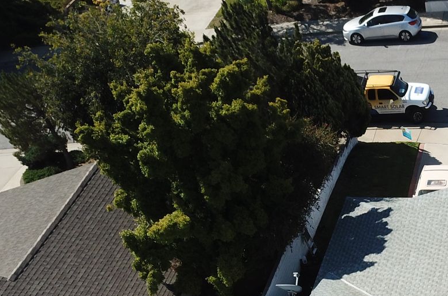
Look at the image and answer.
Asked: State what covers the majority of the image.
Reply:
trees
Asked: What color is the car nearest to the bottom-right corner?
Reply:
white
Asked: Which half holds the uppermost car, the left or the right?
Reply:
right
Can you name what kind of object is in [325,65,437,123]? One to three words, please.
truck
